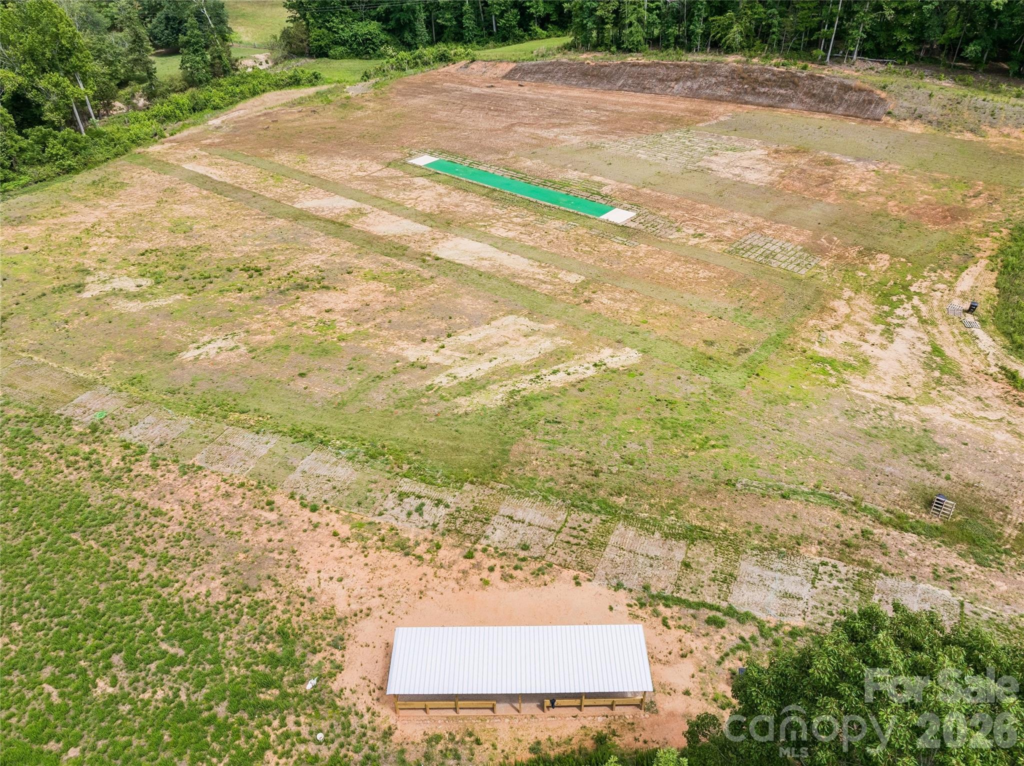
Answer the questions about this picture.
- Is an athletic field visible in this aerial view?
Yes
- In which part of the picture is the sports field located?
top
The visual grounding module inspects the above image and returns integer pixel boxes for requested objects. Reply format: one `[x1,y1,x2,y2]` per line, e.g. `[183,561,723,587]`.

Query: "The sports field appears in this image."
[404,153,639,225]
